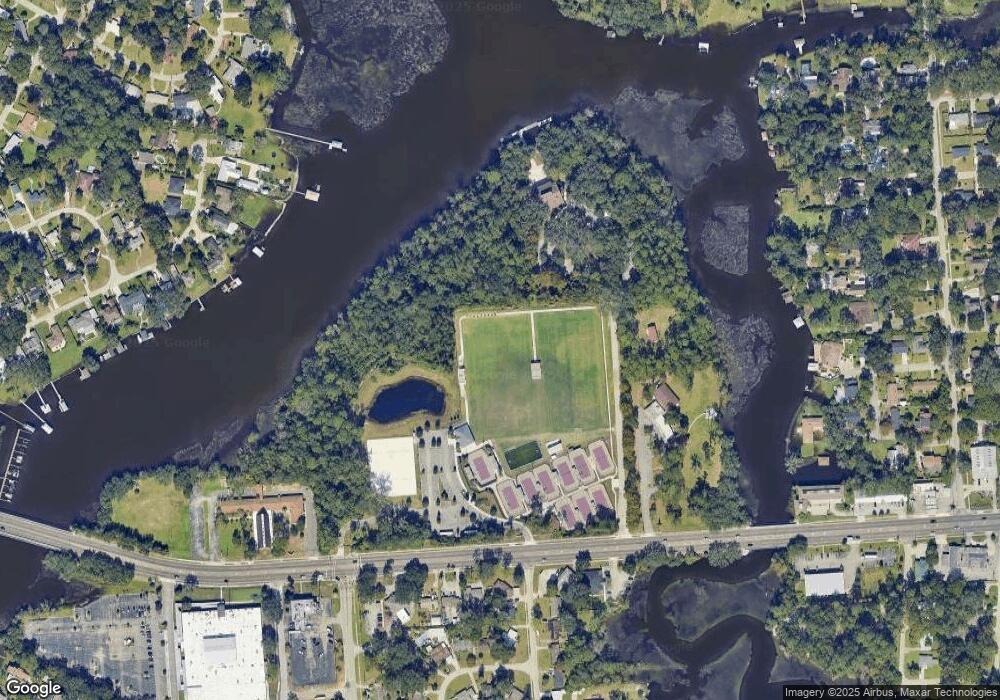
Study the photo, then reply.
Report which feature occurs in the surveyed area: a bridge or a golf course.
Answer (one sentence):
Looking from above, you can make out a bridge.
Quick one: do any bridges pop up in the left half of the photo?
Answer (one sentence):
Yes, a bridge shows up in the left half of the photo.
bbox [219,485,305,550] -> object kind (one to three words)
building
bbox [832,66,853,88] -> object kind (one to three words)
house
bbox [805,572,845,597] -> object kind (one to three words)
shed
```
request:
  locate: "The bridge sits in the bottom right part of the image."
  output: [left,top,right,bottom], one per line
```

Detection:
[748,523,796,549]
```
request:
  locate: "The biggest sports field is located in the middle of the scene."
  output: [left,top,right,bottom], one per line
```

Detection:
[461,308,615,505]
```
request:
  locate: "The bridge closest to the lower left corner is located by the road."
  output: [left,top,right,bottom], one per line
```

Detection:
[0,512,74,552]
